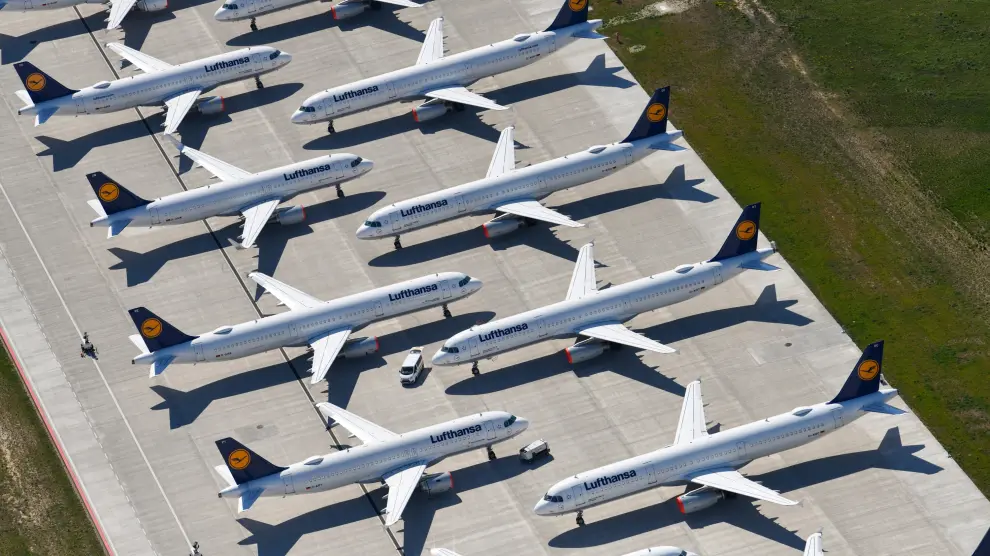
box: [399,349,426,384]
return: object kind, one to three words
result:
vehicle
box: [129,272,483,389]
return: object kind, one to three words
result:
airplane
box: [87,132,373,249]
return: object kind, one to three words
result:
airplane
